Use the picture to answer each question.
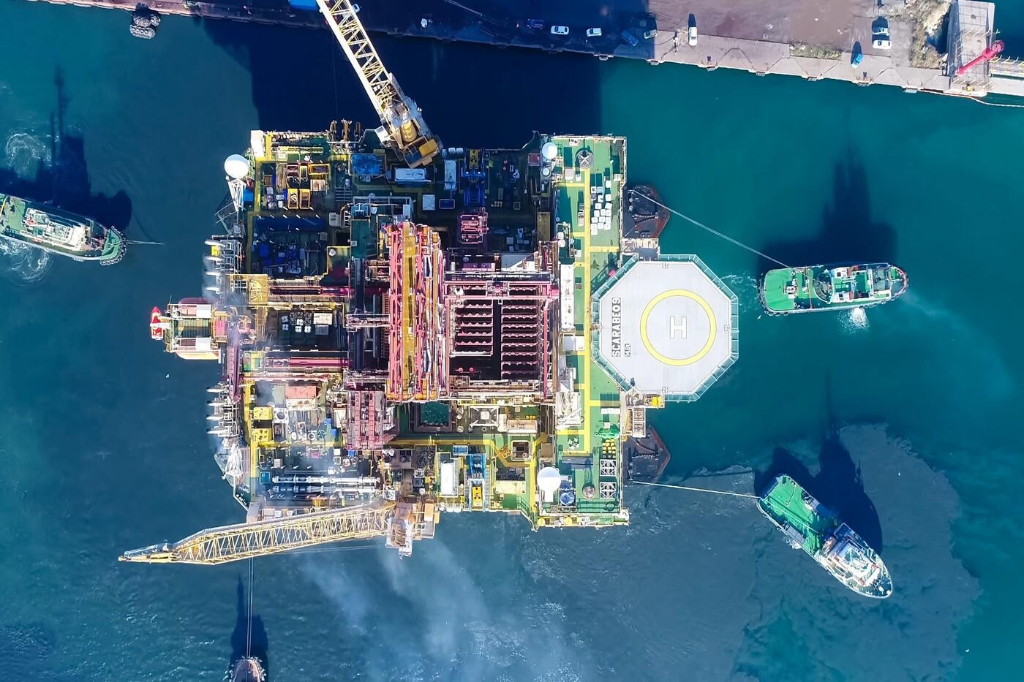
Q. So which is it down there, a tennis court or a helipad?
helipad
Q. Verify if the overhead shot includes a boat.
Yes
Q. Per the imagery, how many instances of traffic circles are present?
0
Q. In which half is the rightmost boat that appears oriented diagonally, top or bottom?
bottom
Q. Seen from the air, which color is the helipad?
white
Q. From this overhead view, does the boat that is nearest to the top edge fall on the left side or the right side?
left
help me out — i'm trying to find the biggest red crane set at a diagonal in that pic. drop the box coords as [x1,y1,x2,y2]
[952,39,1007,77]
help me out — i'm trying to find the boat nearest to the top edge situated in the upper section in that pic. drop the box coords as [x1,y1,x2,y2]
[0,191,124,264]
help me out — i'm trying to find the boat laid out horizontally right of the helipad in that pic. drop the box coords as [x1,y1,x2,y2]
[758,260,914,317]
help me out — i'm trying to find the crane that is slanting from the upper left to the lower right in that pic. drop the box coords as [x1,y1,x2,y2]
[315,0,442,170]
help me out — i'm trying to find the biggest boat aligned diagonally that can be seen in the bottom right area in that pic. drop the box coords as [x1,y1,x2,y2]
[754,468,897,602]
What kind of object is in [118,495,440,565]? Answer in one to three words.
crane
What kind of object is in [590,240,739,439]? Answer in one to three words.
helipad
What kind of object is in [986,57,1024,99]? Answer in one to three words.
pier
